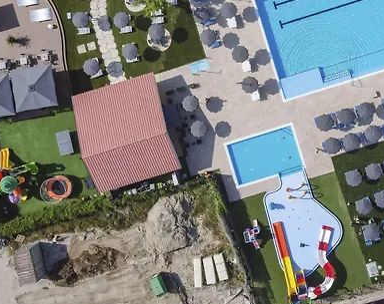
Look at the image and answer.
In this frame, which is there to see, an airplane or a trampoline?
trampoline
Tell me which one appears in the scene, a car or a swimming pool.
swimming pool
